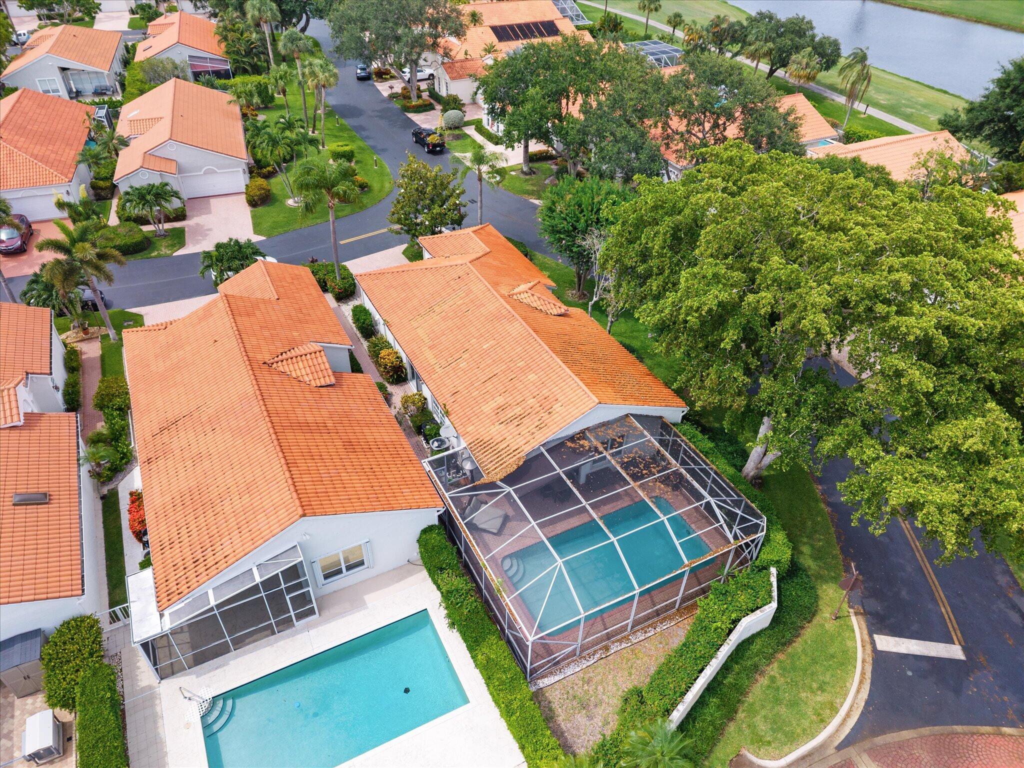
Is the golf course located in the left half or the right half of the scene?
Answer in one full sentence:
The golf course appears in the right half of the scene.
